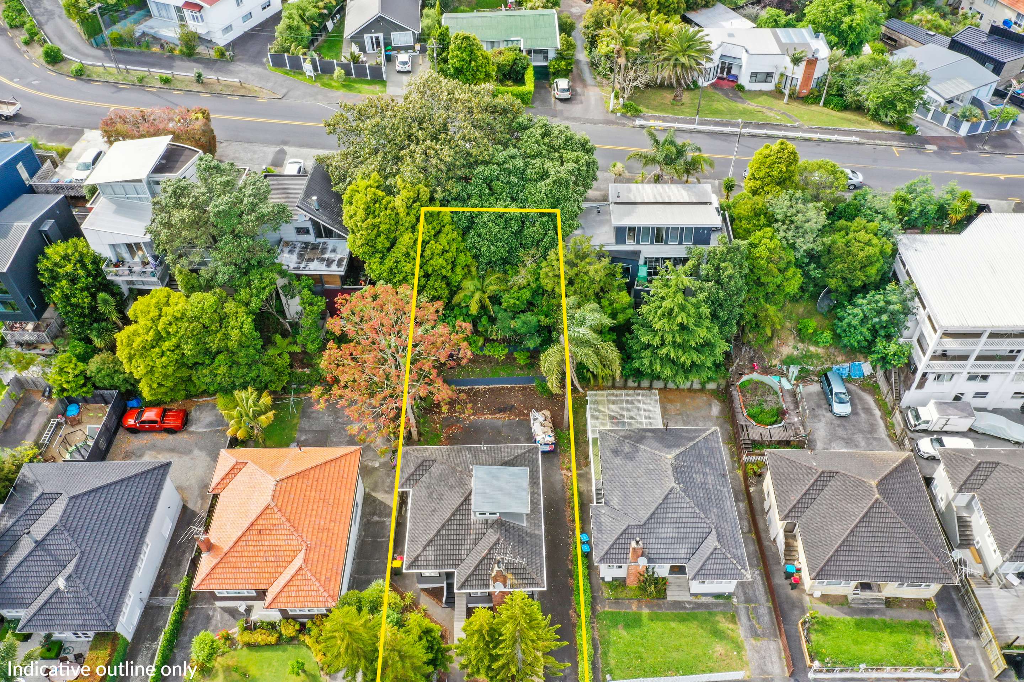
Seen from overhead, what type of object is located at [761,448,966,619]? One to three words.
house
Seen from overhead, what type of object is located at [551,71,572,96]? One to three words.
car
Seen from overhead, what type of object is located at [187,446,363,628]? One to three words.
house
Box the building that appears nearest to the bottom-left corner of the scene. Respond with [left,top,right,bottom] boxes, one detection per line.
[0,461,182,652]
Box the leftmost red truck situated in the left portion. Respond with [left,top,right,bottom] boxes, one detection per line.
[119,403,194,433]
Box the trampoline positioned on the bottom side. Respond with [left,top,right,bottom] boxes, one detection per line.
[50,428,96,461]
